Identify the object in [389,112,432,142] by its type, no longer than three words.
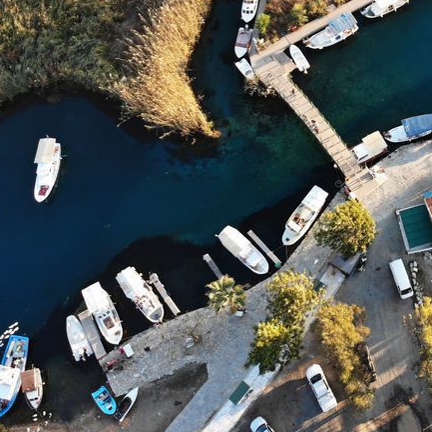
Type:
boat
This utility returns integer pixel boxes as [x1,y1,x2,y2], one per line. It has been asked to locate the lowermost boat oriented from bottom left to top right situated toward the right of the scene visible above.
[286,180,330,244]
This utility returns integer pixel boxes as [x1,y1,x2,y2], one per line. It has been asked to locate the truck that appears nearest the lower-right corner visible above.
[305,362,341,416]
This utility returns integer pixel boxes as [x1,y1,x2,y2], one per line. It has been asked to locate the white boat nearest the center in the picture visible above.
[216,223,263,273]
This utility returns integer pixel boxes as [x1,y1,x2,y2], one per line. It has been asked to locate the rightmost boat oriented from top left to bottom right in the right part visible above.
[291,45,312,77]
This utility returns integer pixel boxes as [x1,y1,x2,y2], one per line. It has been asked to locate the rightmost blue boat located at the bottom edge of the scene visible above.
[91,385,114,417]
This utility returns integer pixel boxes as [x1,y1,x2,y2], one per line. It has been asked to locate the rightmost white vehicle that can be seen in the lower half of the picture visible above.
[387,256,417,302]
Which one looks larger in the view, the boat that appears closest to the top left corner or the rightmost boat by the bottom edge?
the boat that appears closest to the top left corner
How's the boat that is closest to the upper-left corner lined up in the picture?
from top to bottom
